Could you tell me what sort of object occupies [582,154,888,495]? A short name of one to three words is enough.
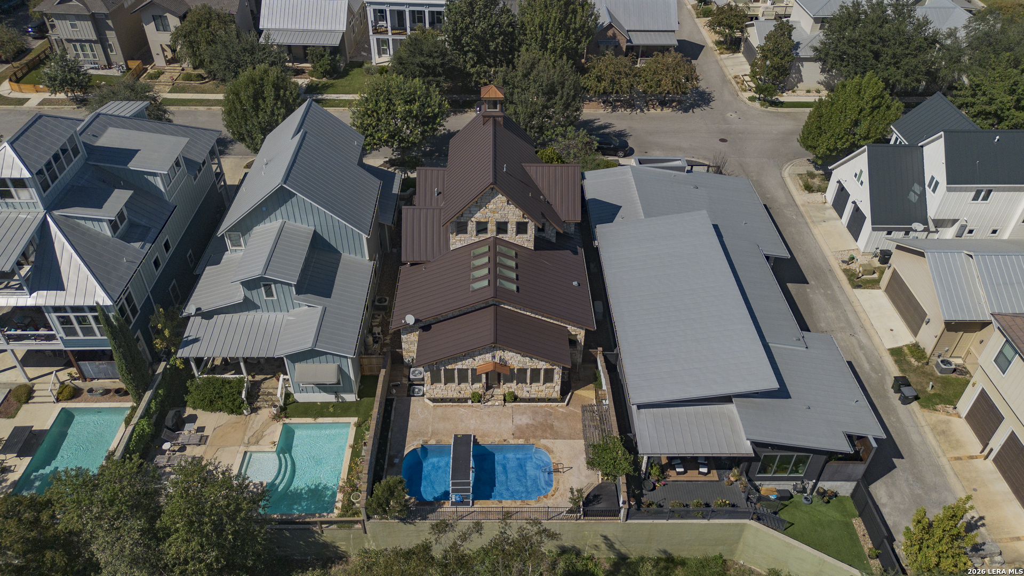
house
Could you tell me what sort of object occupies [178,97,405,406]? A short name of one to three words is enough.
house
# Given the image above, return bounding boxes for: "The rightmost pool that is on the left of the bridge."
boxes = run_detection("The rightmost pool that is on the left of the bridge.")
[228,419,355,518]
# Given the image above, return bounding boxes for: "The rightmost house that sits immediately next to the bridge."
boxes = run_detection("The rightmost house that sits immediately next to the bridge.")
[389,83,598,411]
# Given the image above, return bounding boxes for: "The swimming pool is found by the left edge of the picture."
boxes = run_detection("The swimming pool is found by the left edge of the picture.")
[0,402,133,513]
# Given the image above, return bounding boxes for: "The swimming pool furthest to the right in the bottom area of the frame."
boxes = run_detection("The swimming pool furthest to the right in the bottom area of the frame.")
[395,437,562,509]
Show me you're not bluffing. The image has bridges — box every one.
[448,435,474,507]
